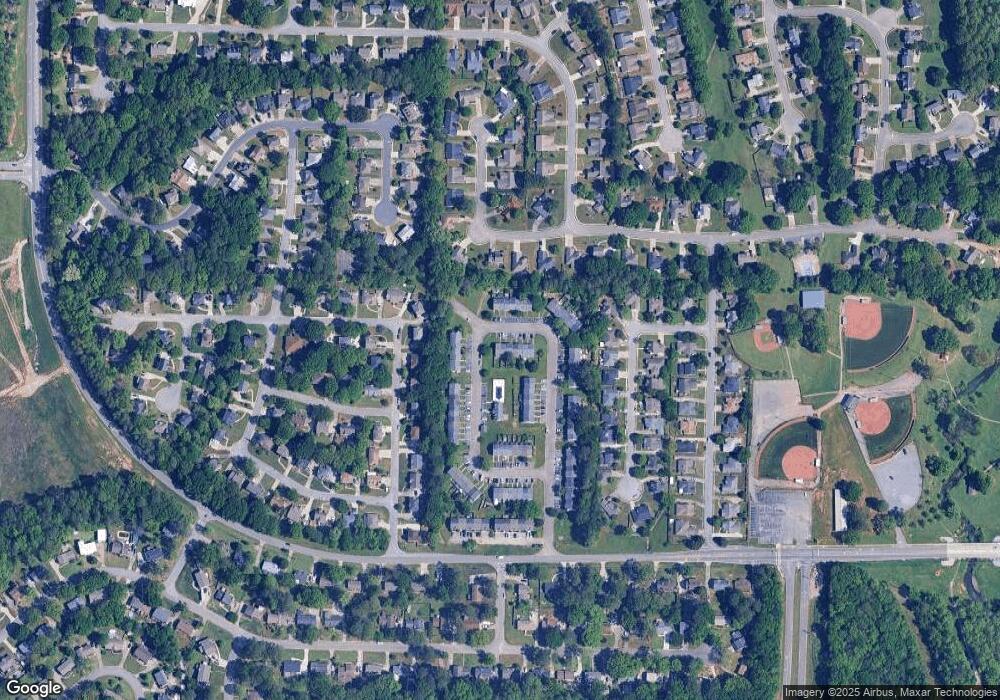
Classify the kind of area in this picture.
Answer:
residential area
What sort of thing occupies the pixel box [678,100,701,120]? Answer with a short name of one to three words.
house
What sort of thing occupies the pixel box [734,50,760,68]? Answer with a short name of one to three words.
house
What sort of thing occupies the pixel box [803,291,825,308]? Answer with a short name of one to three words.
building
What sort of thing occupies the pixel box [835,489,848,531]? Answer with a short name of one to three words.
building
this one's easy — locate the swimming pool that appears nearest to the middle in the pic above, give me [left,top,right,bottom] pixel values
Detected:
[492,379,505,402]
